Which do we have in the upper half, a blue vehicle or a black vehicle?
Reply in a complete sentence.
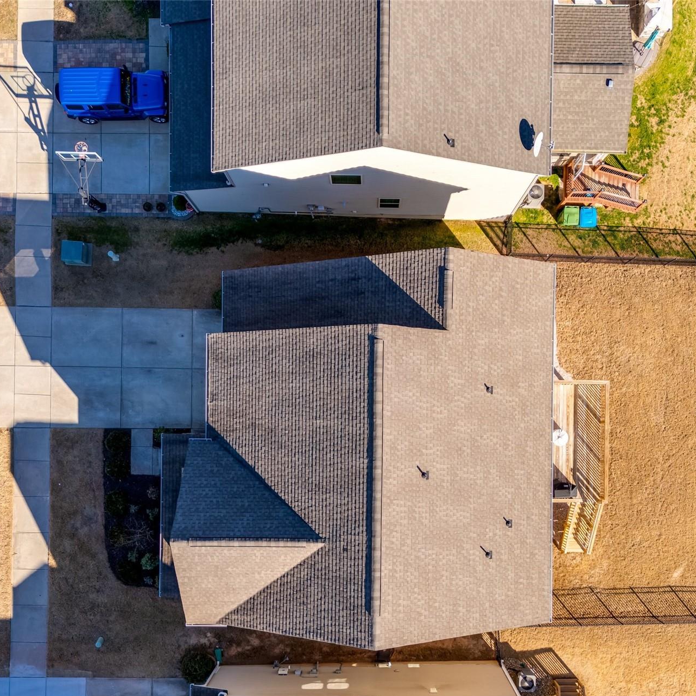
There is a blue vehicle in the upper half.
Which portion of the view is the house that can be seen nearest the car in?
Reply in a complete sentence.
The house that can be seen nearest the car appears toward the top of the photo.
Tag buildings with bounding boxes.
[157,248,557,653]
[159,0,635,223]
[187,646,522,696]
